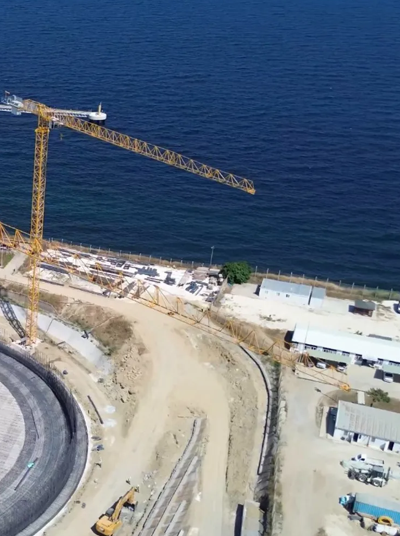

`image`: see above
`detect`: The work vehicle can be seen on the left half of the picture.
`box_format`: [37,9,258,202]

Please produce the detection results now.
[93,486,127,536]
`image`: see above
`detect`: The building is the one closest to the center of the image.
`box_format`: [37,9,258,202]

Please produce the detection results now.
[260,277,312,306]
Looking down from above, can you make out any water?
Yes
